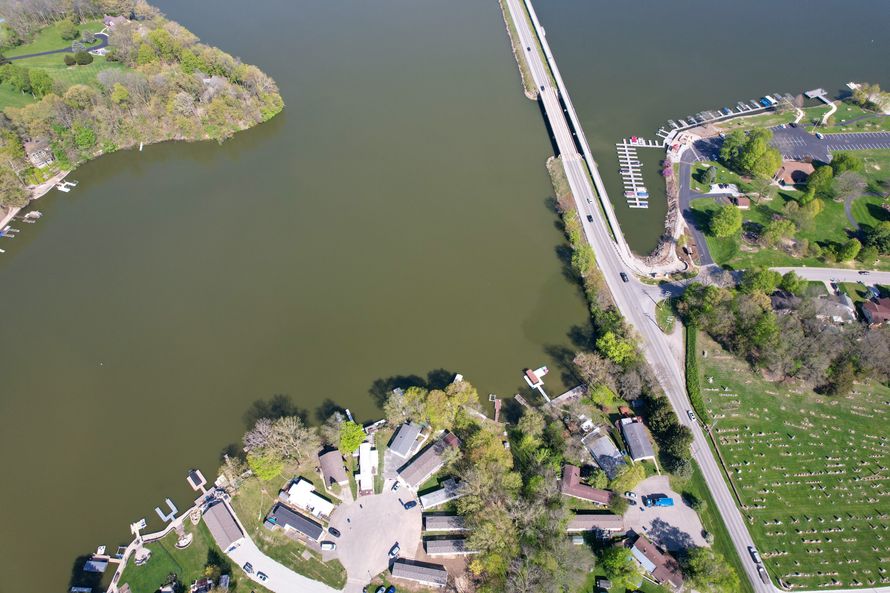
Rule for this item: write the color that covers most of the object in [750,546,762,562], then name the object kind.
white vehicle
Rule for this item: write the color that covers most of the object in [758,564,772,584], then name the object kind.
gray vehicle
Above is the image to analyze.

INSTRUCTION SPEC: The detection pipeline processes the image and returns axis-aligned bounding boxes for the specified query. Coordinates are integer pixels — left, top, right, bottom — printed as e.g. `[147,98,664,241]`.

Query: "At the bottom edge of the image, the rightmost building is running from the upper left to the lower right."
[630,536,683,588]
